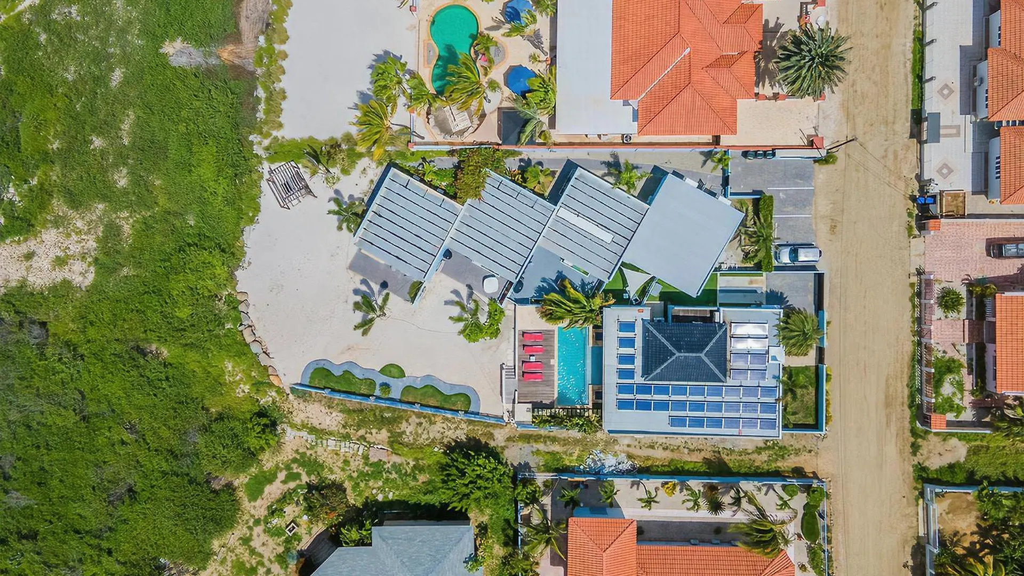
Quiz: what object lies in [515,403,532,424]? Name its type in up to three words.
shed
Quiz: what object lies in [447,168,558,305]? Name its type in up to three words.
house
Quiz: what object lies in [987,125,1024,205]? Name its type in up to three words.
house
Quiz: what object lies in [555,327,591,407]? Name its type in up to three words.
swimming pool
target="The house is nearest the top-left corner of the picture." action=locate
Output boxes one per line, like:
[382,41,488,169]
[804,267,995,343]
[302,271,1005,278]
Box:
[354,167,464,303]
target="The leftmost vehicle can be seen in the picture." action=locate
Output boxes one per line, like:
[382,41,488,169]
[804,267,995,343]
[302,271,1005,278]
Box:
[772,243,822,267]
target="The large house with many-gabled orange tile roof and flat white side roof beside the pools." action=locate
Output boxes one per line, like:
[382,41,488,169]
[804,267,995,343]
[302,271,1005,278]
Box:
[556,0,764,136]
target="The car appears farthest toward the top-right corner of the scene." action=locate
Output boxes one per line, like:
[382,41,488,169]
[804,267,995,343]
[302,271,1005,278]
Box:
[984,236,1024,260]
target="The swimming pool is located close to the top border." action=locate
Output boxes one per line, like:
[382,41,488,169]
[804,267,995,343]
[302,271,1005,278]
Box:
[423,1,508,102]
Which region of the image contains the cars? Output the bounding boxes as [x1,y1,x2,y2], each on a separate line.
[772,243,822,267]
[984,236,1024,260]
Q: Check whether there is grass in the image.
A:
Yes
